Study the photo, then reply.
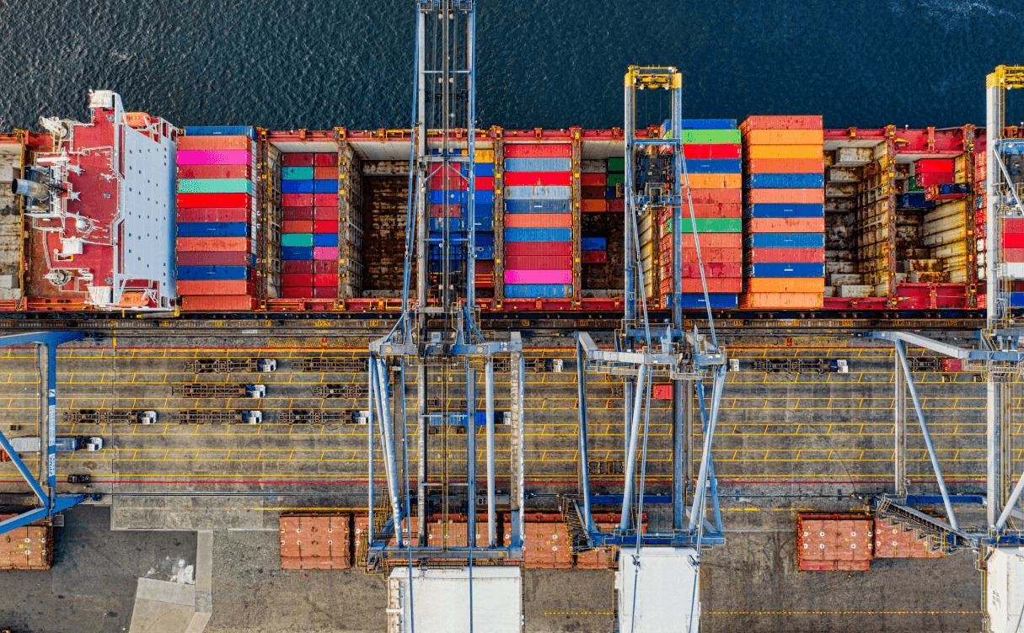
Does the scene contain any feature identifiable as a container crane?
Yes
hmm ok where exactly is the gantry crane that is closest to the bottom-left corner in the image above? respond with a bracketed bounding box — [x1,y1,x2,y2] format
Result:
[0,330,89,533]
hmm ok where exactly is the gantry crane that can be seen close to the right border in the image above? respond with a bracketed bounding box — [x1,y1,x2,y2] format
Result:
[859,68,1024,633]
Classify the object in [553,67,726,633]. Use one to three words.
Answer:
container crane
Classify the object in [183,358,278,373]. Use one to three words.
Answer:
vehicle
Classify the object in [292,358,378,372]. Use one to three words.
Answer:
vehicle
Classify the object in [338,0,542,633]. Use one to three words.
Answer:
container crane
